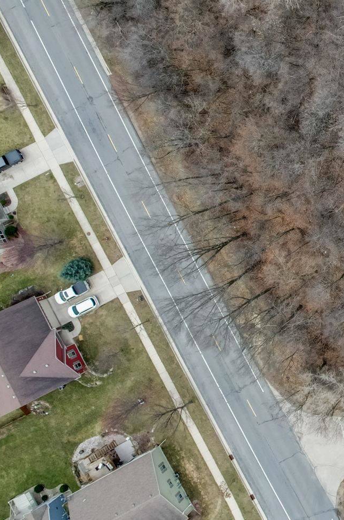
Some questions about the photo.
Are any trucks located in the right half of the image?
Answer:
No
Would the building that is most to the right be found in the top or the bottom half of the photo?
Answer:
bottom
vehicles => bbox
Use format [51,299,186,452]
[0,146,28,174]
[52,278,95,306]
[66,292,103,320]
